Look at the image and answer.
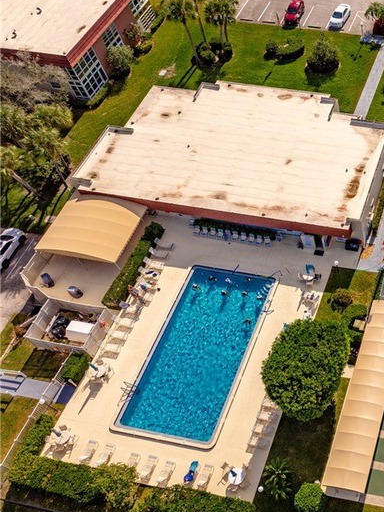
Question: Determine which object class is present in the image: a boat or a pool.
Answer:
pool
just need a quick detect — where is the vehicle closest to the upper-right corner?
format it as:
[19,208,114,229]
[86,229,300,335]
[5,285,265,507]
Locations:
[330,7,351,30]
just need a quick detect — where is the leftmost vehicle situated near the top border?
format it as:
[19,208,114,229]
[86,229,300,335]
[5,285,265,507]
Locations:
[283,2,305,25]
